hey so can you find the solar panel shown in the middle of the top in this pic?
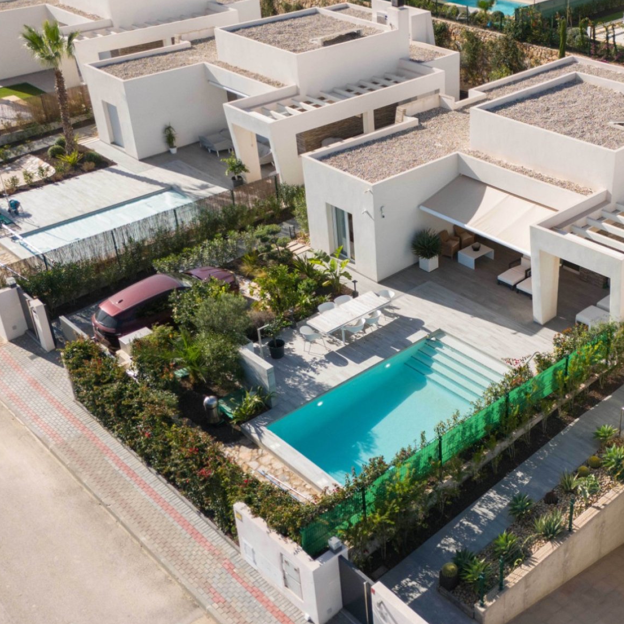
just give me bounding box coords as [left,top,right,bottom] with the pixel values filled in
[310,29,363,46]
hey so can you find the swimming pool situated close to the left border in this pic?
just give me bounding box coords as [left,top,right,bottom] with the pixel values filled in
[12,189,208,263]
